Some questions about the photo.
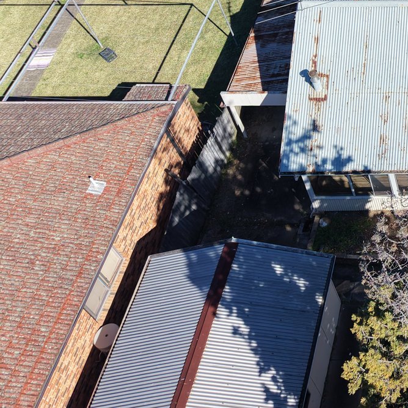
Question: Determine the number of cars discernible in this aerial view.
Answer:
0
